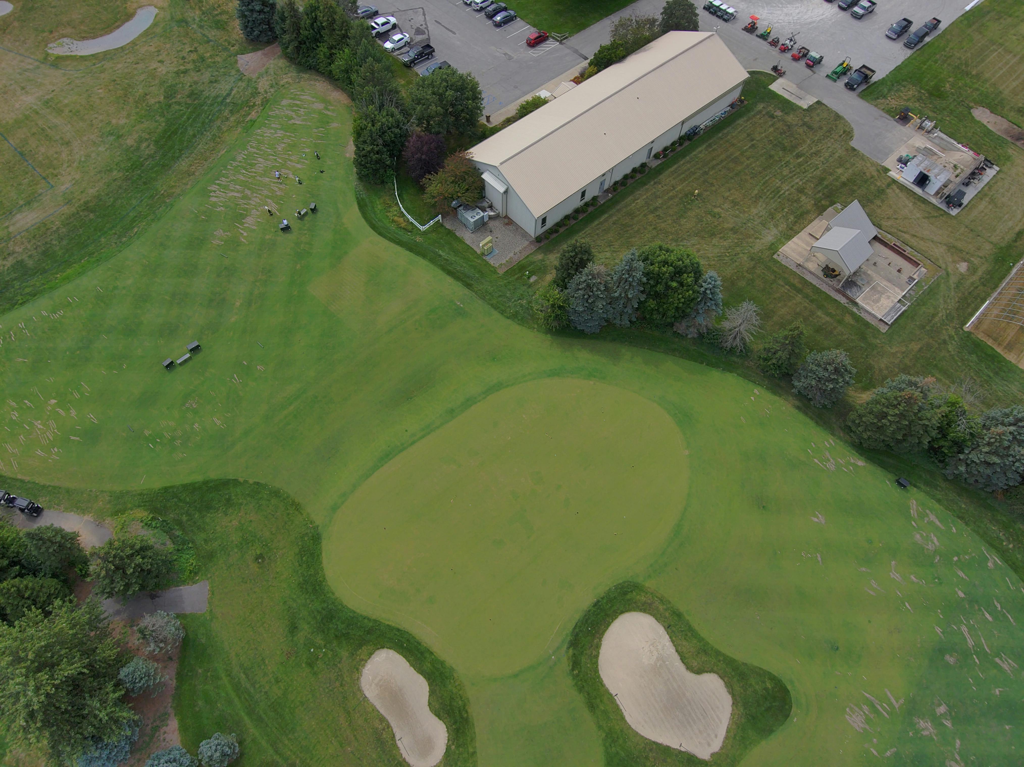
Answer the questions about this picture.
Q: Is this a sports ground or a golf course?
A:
golf course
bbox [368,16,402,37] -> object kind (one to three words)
truck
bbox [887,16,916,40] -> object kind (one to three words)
truck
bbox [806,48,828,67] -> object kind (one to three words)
vehicle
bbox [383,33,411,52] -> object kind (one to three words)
car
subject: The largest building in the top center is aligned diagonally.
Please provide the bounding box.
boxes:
[468,28,750,235]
